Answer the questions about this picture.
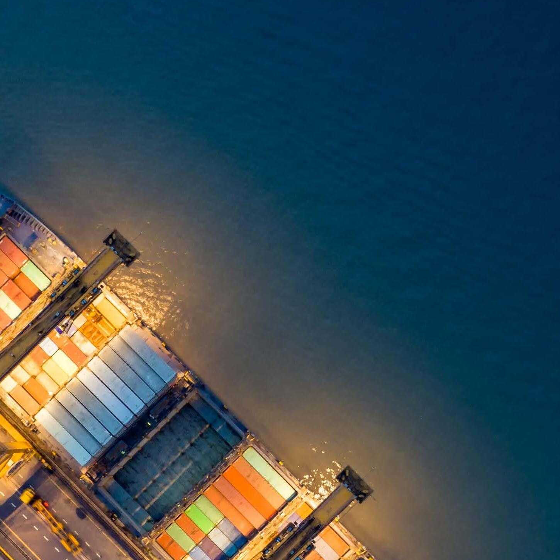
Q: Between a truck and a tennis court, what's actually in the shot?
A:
truck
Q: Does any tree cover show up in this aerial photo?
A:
No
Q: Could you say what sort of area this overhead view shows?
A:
port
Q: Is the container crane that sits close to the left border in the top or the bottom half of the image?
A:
bottom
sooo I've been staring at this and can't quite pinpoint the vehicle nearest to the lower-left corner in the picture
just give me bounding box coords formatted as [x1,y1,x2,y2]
[19,487,86,555]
